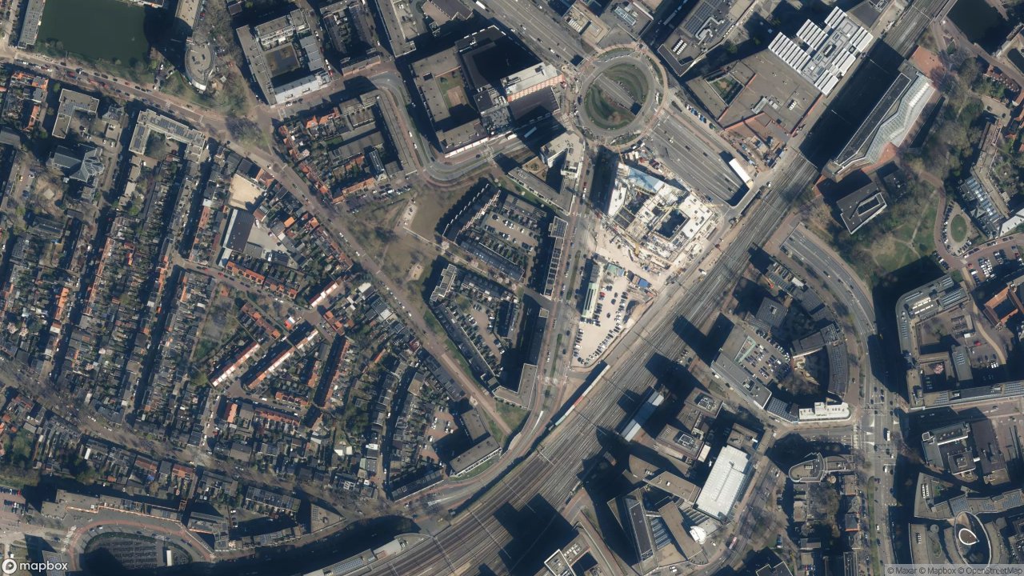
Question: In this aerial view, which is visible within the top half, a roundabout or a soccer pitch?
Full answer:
What appears within the top half is a roundabout.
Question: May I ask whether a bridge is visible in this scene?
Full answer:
Yes, this view includes a bridge.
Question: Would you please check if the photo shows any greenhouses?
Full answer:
Yes, a greenhouse can be made out from above.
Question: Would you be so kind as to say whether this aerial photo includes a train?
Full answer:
Yes, the frame does contain a train.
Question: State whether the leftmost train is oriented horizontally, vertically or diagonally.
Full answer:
Seen from above, the leftmost train lies diagonally.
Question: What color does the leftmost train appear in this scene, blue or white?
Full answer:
The leftmost train is white.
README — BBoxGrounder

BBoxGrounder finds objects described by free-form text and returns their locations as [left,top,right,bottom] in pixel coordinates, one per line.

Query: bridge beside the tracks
[704,167,816,284]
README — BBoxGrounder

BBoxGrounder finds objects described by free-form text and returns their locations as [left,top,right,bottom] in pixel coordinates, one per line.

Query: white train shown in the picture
[545,366,610,431]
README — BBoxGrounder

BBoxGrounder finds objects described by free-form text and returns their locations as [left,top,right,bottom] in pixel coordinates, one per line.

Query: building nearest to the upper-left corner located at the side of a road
[18,0,46,50]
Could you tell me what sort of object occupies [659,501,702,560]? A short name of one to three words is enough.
building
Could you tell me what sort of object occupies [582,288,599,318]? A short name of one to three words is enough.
shed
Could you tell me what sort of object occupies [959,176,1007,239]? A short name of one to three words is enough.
greenhouse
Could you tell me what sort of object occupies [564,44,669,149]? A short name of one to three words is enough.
roundabout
